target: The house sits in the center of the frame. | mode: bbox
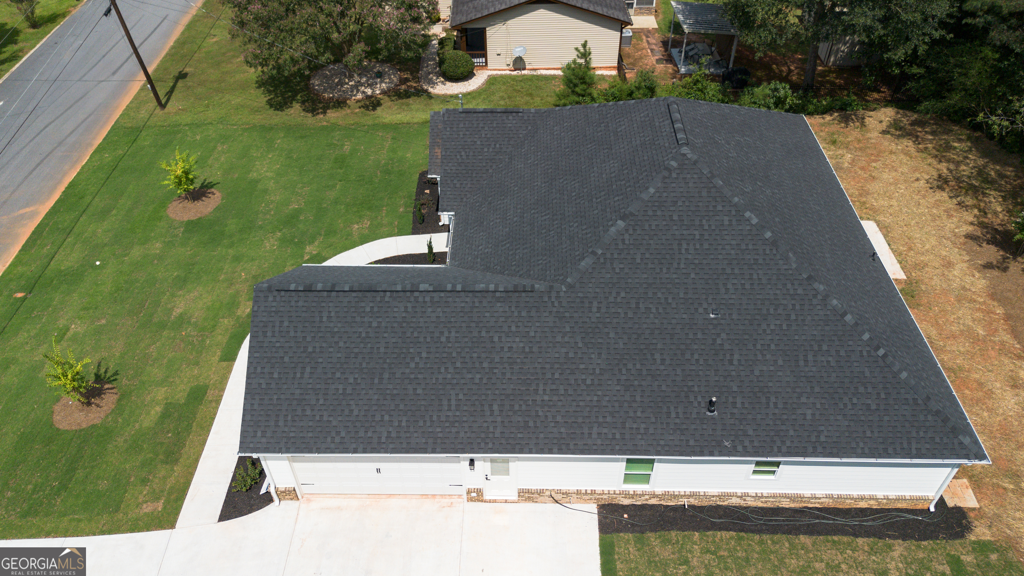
[237,97,990,516]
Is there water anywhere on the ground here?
No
